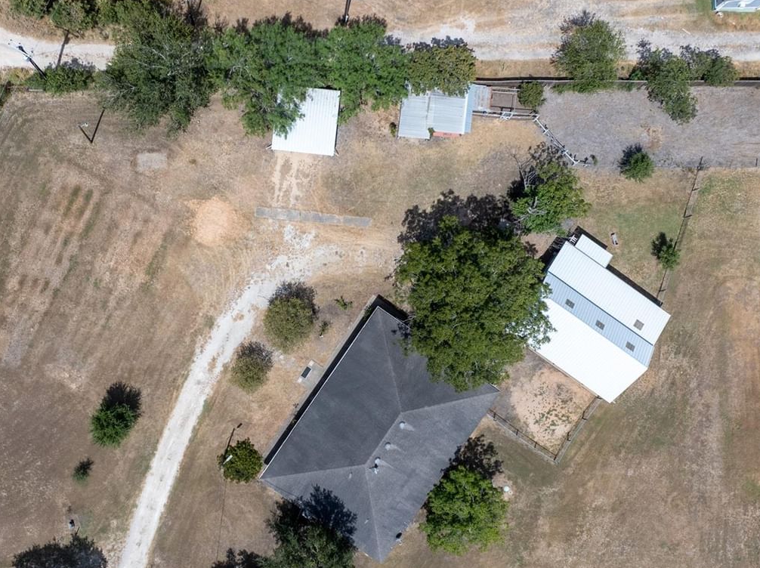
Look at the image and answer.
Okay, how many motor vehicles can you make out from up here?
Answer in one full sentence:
The photo contains no motor vehicles.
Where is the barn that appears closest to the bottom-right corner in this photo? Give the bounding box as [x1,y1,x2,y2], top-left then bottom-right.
[512,234,670,403]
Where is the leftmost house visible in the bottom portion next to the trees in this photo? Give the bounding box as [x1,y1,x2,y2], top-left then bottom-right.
[261,306,499,563]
